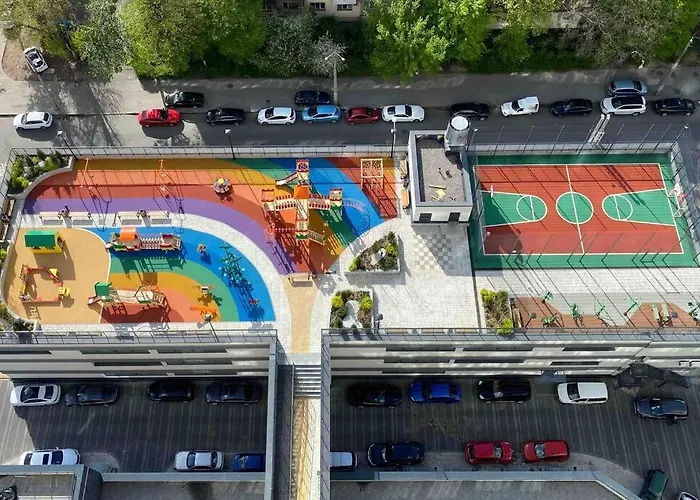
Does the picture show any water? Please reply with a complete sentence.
No, water can't be seen anywhere here.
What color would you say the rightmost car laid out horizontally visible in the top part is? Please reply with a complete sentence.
The rightmost car laid out horizontally visible in the top part looks black in the image.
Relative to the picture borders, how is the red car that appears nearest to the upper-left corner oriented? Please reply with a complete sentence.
The red car that appears nearest to the upper-left corner is laid out horizontally.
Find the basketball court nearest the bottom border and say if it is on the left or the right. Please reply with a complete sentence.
You can find the basketball court nearest the bottom border on the right side of the picture.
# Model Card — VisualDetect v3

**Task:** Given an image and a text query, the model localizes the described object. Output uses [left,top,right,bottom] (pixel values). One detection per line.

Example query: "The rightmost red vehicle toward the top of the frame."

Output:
[344,106,383,127]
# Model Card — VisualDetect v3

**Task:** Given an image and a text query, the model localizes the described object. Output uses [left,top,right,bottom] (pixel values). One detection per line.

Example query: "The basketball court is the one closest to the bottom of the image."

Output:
[471,155,700,267]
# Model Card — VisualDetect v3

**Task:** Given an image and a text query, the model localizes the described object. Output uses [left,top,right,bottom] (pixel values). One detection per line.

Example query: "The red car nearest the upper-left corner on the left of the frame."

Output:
[137,107,183,129]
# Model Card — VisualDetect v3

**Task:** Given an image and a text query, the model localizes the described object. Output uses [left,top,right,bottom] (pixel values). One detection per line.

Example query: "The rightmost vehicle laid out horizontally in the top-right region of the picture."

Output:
[651,96,697,118]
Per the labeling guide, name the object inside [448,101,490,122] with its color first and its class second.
black car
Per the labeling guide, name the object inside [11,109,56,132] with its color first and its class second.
white car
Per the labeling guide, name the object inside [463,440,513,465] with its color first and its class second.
red car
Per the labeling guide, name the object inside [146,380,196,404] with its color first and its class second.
black car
